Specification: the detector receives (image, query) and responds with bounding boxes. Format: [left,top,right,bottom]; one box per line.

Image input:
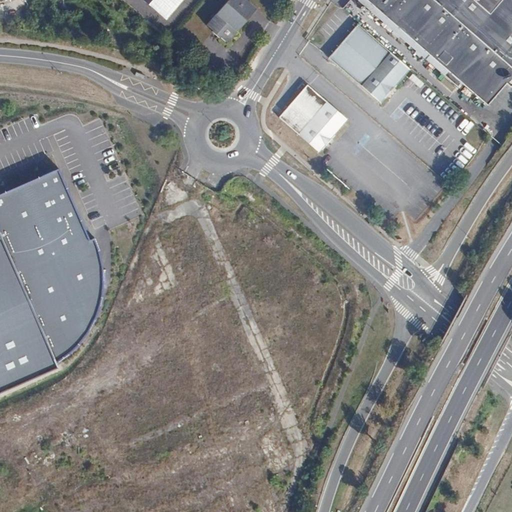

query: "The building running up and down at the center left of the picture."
[0,170,105,390]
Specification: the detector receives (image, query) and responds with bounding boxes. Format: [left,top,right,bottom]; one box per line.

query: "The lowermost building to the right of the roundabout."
[280,85,348,154]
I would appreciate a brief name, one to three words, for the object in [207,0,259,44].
house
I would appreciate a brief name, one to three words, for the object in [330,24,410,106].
building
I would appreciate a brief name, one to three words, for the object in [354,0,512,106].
building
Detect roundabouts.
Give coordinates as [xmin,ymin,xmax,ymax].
[190,102,256,168]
